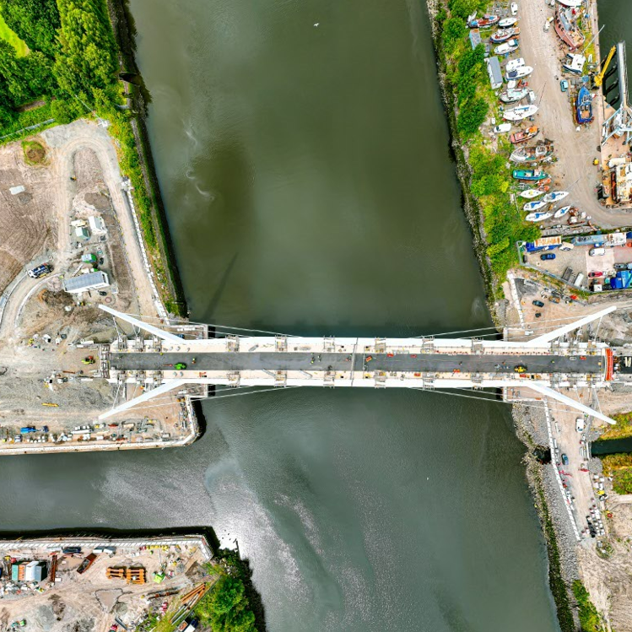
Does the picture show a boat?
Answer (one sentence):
Yes, this view includes a boat.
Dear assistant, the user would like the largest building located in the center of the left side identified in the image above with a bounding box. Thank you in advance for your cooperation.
[63,268,112,292]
